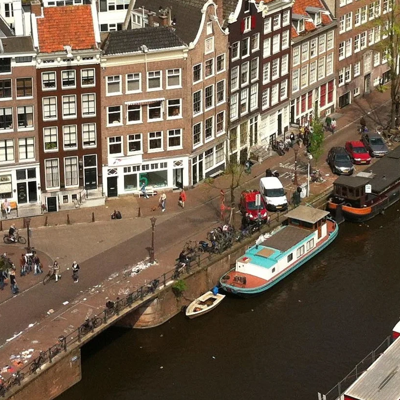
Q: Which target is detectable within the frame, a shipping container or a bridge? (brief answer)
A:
bridge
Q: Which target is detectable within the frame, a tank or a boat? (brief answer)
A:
boat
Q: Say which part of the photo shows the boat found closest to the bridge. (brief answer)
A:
bottom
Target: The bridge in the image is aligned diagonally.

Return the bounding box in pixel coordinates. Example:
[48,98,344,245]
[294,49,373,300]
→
[70,290,165,373]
